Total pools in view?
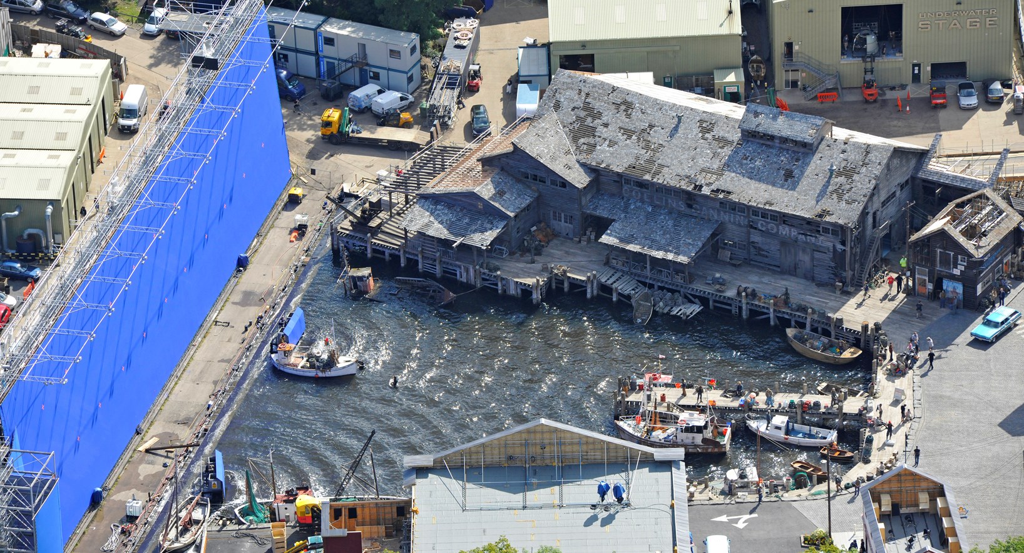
0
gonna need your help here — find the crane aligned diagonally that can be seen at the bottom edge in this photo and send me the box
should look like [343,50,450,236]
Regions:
[292,430,376,537]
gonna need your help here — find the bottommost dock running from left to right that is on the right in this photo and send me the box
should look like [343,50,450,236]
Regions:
[613,381,869,438]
